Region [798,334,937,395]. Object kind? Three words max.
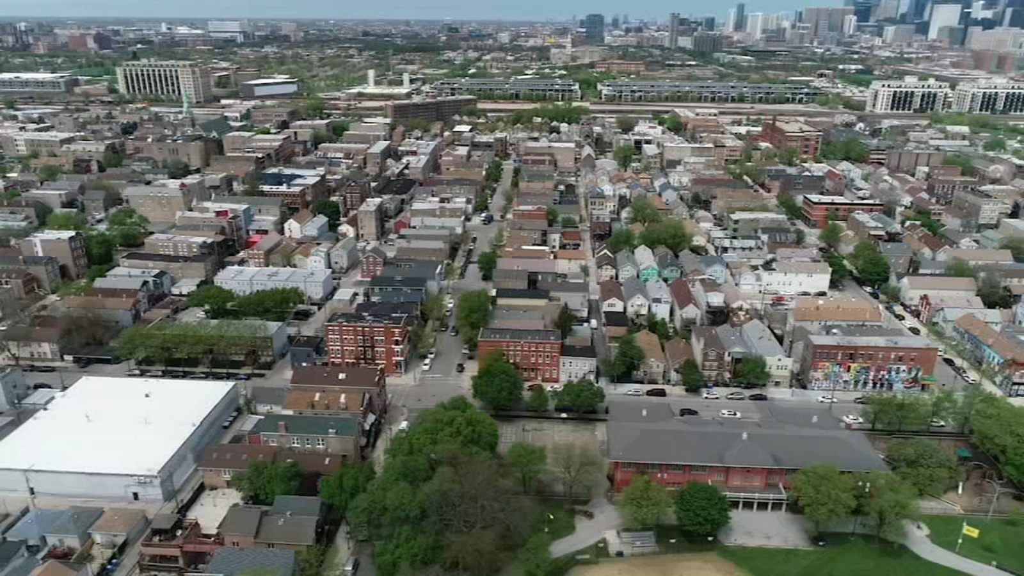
building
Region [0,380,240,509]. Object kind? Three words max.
warehouse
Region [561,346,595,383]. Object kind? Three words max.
building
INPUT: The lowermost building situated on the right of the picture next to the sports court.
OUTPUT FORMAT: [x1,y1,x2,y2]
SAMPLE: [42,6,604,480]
[605,398,884,517]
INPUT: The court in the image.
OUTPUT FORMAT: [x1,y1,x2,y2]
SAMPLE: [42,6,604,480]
[494,422,607,500]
